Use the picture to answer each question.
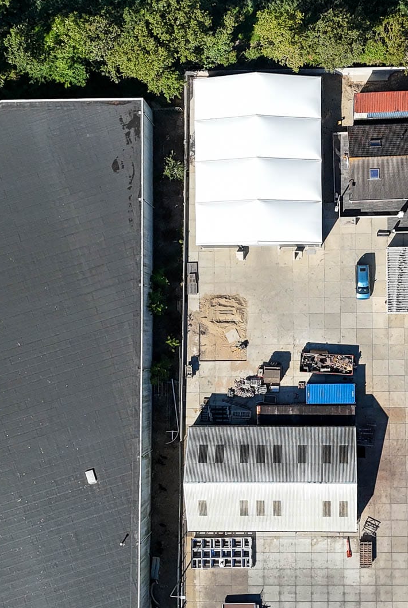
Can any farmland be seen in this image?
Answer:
No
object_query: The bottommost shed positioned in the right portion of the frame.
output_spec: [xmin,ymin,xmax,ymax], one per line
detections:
[184,424,359,532]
